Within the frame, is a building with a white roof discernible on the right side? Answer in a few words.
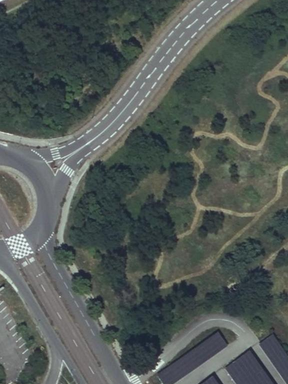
No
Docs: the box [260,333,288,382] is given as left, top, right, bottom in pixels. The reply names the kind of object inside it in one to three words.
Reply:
building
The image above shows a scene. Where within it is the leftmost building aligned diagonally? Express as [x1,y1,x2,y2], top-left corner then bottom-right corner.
[158,330,228,384]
